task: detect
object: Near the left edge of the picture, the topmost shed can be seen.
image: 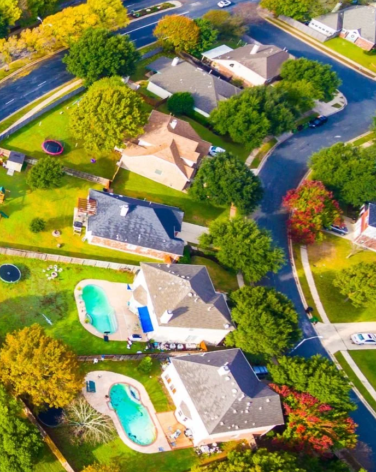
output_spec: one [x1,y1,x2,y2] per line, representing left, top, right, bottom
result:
[5,152,26,175]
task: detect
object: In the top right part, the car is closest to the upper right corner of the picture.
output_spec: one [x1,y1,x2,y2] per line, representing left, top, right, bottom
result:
[309,114,329,126]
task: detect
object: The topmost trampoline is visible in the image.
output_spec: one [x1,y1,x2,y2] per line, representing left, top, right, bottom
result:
[42,136,62,155]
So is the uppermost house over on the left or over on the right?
right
